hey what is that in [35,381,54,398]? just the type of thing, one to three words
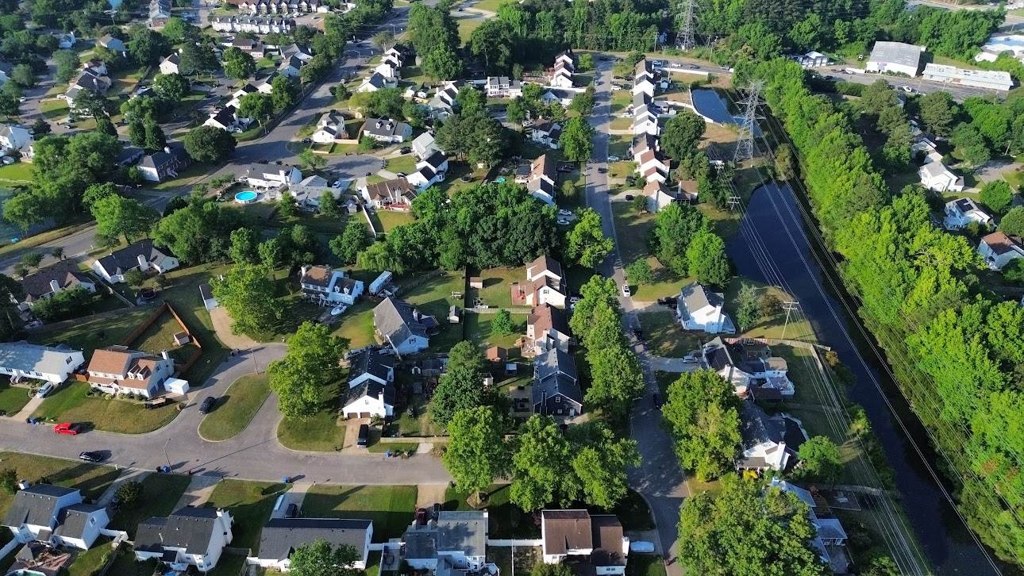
car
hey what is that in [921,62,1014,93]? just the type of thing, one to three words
building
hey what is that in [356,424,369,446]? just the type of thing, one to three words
vehicle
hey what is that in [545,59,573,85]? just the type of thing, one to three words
house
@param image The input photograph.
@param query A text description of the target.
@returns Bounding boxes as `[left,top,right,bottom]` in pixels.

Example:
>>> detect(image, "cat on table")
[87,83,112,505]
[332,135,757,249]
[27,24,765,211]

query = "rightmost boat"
[329,300,351,317]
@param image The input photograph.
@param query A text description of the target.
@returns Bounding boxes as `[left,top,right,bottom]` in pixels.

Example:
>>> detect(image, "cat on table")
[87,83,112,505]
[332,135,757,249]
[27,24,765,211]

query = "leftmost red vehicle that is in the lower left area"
[52,421,84,436]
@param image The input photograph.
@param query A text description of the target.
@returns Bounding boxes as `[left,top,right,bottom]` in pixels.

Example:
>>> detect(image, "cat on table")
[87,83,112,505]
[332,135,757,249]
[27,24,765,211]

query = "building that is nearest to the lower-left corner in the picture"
[5,481,108,576]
